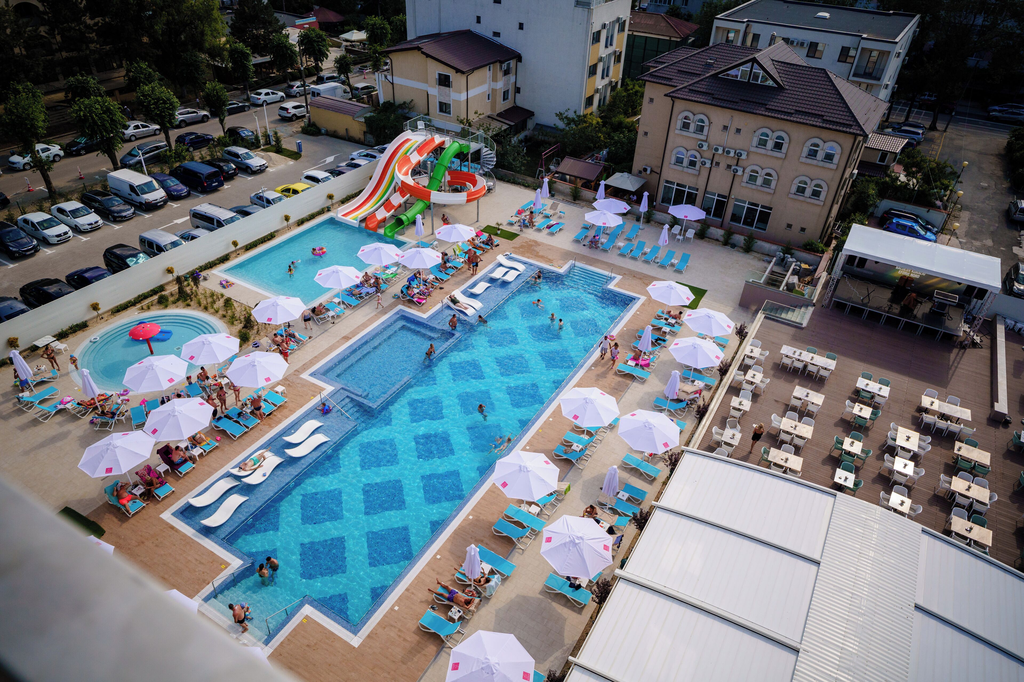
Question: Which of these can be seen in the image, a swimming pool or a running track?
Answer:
swimming pool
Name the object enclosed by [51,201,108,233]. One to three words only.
car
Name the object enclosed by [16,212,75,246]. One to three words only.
car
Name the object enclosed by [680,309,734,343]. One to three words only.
umbrella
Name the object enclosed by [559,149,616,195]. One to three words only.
shed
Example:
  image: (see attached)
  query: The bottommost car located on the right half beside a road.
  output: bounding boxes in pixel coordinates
[1001,262,1024,296]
